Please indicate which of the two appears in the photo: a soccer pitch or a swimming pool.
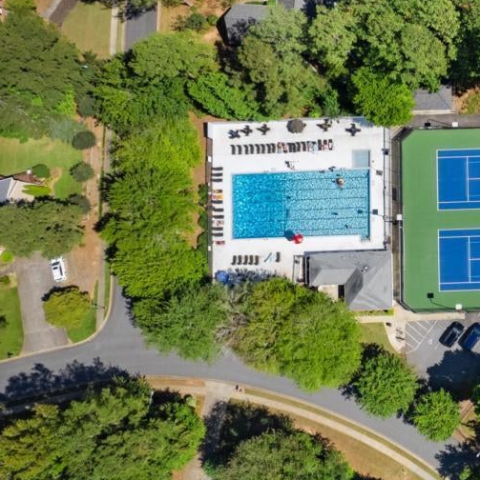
swimming pool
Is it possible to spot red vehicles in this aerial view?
No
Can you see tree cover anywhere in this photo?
Yes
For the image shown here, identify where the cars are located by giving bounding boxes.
[462,322,480,352]
[48,255,68,285]
[442,320,465,350]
